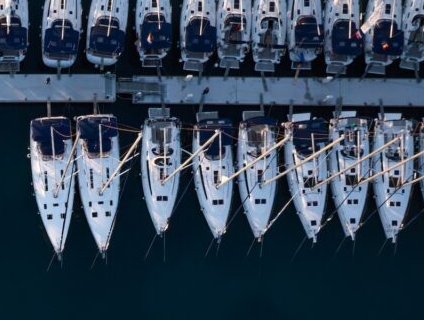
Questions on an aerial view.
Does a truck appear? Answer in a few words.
No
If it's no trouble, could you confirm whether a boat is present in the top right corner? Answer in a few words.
Yes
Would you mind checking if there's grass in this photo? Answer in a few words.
No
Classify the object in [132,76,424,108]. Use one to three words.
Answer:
pier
